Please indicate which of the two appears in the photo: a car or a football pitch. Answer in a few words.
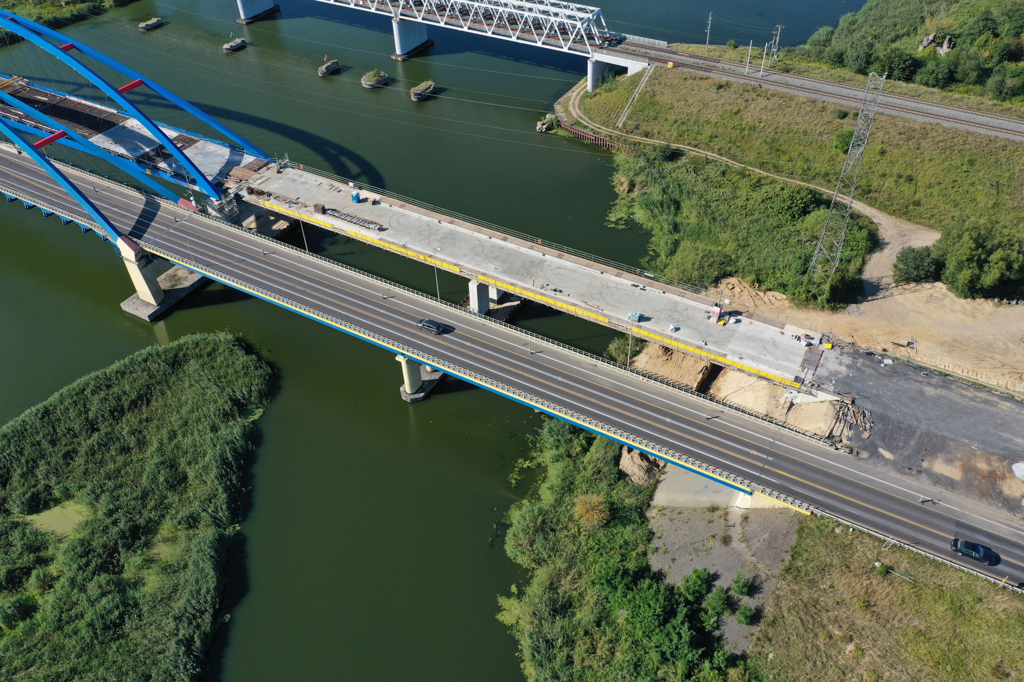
car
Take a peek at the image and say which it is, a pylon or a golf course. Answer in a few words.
pylon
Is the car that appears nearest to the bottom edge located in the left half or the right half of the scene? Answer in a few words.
right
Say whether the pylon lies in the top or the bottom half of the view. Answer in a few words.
top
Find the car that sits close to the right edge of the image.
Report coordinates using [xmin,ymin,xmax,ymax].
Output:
[952,537,997,566]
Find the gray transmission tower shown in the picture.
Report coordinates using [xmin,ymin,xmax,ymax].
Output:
[809,70,888,295]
